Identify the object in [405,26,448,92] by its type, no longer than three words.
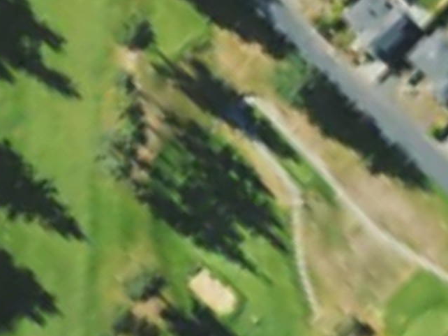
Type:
house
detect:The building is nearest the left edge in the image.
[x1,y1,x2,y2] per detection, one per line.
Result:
[346,0,420,64]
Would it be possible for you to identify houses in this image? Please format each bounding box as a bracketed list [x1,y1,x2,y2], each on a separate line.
[405,26,448,92]
[346,0,420,64]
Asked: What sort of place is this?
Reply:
golf course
